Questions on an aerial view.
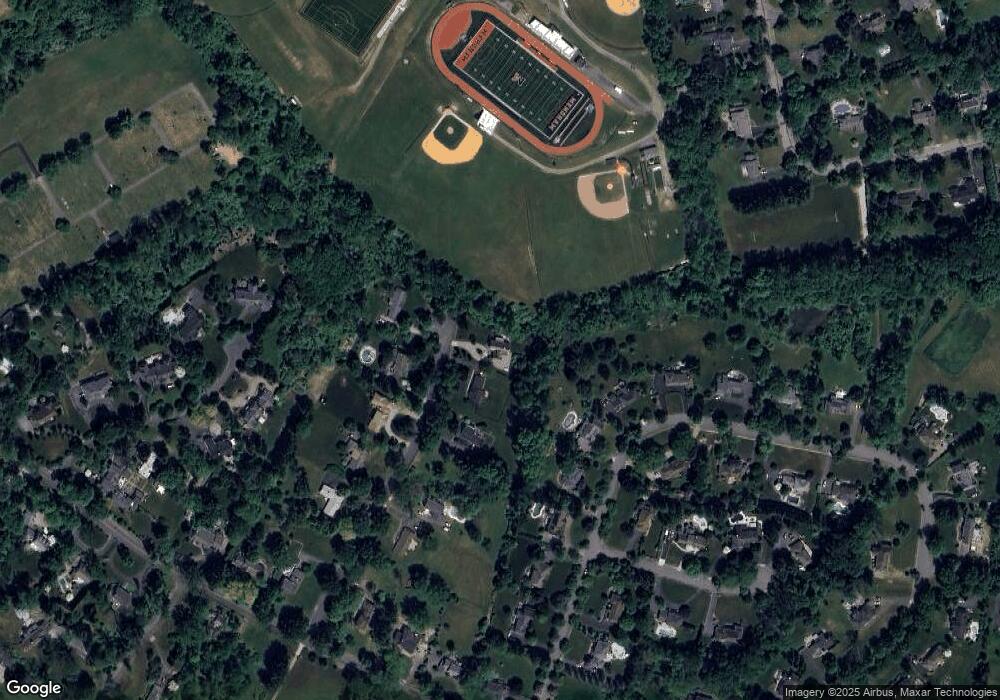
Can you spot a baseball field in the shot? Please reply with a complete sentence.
Yes, a baseball field is visible in the scene.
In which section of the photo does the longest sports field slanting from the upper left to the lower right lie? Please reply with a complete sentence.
The longest sports field slanting from the upper left to the lower right is in the top part of the image.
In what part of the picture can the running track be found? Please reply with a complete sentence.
The running track sits in the top section of the image.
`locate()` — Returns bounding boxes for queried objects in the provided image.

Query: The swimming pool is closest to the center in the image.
[564,412,578,430]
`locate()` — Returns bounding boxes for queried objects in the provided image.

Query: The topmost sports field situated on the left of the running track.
[301,0,398,55]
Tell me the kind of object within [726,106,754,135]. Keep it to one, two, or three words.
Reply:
house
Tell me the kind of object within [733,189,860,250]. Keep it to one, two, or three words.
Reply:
sports field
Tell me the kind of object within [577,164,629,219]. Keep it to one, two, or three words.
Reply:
baseball field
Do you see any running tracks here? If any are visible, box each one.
[433,2,613,156]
